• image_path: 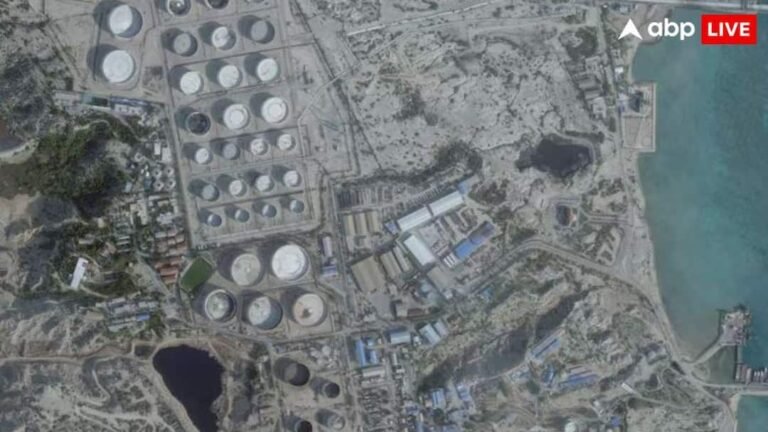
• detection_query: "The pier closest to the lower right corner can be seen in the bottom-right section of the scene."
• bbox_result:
[713,310,748,350]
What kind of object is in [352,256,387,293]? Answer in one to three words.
building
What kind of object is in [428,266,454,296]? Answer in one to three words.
building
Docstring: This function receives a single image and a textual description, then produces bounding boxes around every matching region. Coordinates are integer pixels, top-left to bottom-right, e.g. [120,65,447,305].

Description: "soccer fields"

[178,254,215,294]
